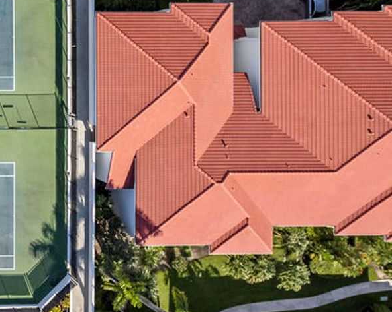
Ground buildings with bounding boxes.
[94,1,392,255]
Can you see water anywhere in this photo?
No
